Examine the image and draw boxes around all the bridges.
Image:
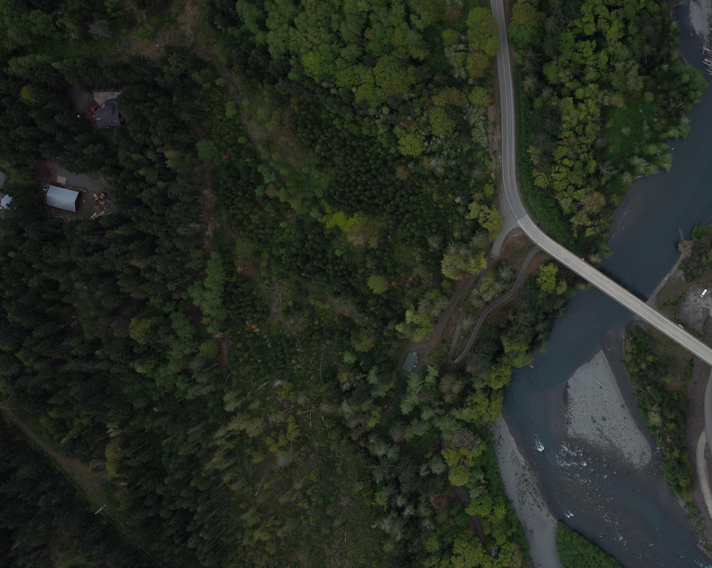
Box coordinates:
[518,213,712,367]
